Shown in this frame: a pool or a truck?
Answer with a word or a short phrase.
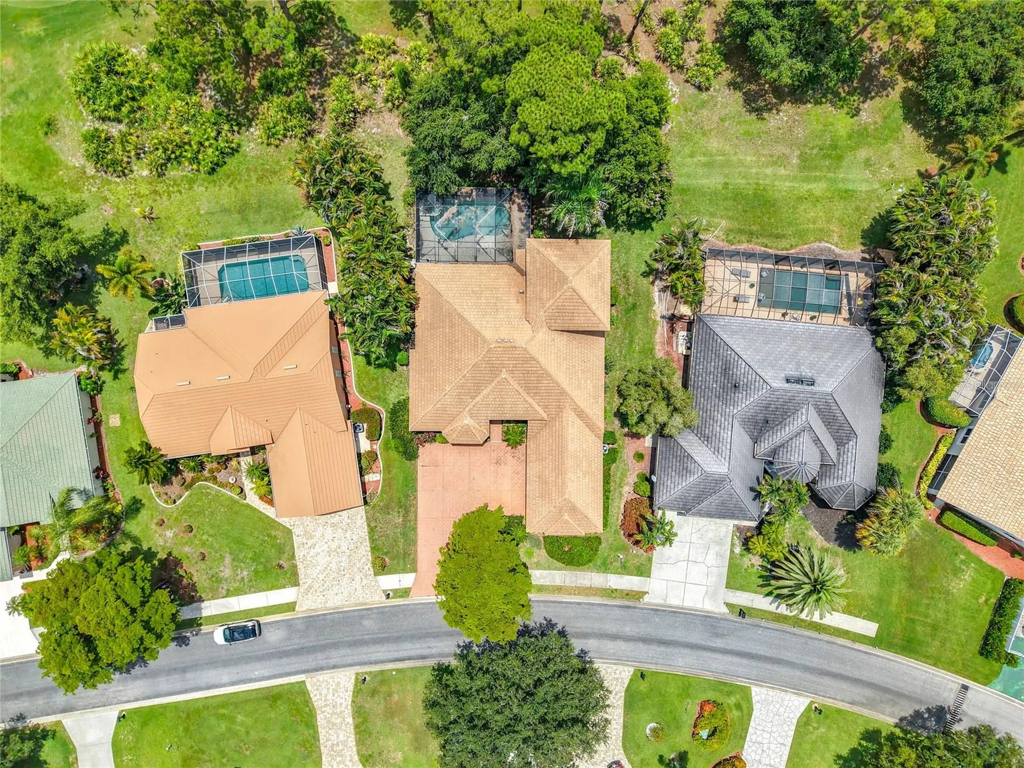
pool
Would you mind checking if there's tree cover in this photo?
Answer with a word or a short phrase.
Yes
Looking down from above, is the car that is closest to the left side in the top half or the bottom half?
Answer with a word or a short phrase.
bottom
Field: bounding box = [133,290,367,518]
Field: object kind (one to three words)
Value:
house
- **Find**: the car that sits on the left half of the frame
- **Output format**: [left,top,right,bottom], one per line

[213,618,264,646]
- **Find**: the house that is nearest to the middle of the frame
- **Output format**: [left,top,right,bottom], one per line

[409,238,612,536]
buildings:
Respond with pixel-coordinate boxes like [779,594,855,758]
[651,313,886,522]
[409,238,612,536]
[0,373,111,580]
[925,308,1024,541]
[133,290,367,518]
